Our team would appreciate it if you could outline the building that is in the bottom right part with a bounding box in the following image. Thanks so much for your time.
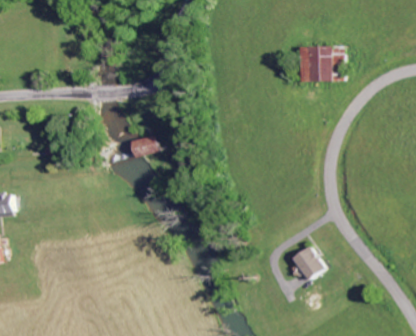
[293,246,329,280]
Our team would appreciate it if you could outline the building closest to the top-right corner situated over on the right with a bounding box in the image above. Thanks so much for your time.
[302,46,349,84]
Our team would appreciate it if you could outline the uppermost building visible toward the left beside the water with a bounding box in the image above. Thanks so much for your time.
[132,136,163,158]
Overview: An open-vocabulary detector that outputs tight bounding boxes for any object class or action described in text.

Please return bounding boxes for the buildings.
[0,238,12,266]
[0,192,20,218]
[293,246,329,280]
[302,46,349,84]
[132,136,163,158]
